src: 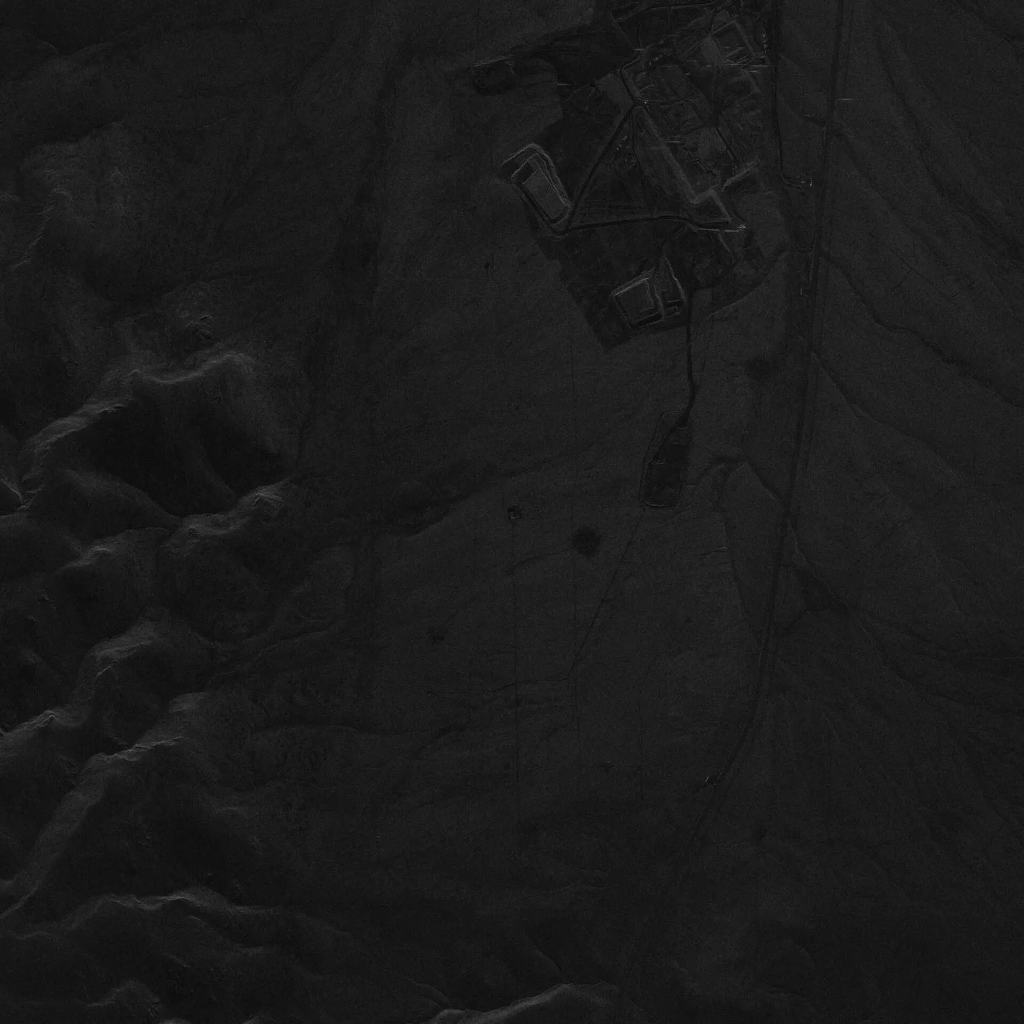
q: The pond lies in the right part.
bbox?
[647,429,690,504]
